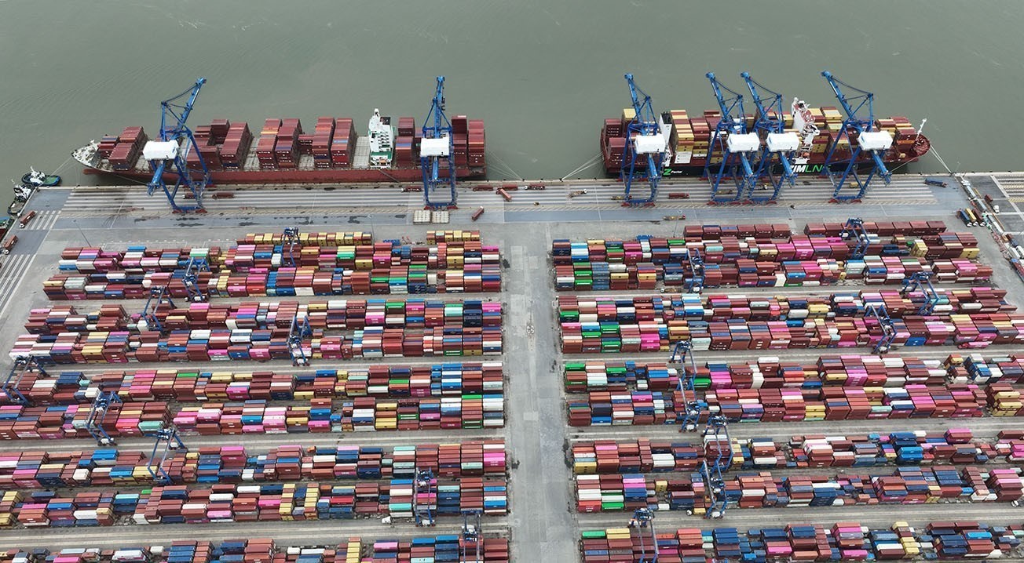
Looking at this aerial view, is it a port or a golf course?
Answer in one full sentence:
This image shows a port.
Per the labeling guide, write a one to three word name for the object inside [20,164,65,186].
boat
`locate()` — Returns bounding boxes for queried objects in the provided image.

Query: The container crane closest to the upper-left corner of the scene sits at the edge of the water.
[149,79,215,212]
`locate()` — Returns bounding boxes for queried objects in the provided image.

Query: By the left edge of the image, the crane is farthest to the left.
[0,356,43,409]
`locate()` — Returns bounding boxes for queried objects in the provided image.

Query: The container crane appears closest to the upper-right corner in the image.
[818,72,890,202]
